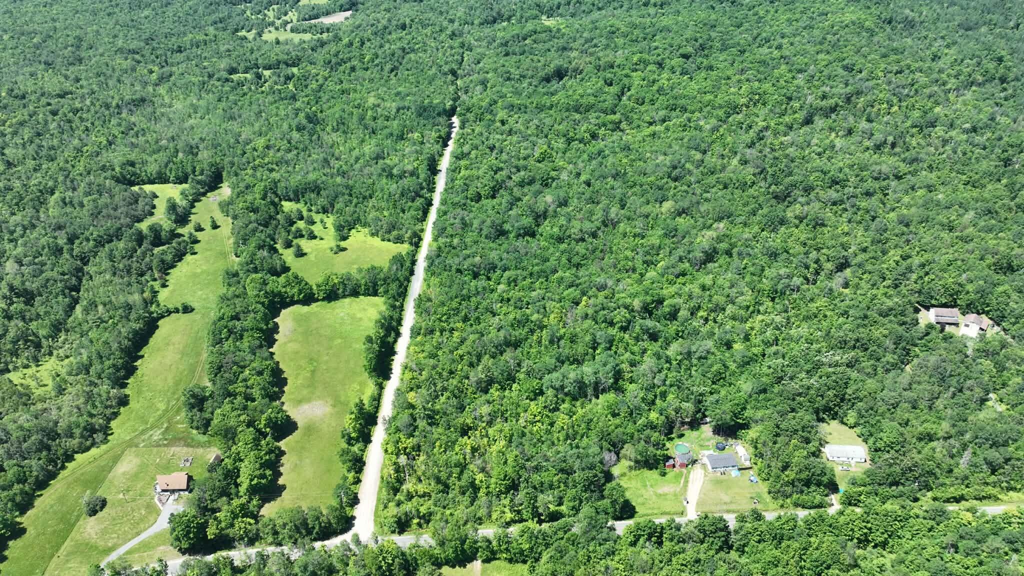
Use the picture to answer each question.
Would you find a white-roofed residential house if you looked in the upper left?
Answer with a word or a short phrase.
No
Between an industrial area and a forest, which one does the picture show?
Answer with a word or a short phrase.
forest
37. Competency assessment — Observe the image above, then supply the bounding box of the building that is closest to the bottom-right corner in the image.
[824,444,867,463]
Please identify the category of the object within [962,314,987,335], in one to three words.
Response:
building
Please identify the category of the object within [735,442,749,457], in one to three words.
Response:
vehicle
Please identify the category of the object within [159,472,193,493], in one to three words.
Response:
house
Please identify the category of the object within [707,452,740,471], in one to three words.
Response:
house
